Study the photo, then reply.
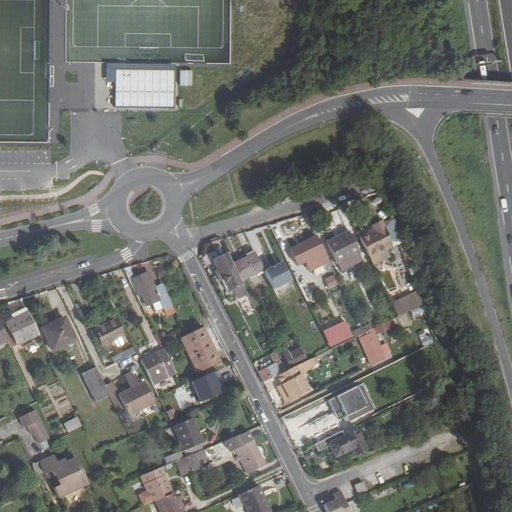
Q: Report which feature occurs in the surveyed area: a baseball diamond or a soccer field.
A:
soccer field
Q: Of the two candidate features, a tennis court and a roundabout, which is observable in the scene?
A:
roundabout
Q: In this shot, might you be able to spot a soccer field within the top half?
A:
Yes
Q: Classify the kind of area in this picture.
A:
residential area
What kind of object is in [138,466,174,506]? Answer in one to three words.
house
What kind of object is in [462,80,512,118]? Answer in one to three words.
overpass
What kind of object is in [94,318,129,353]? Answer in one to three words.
house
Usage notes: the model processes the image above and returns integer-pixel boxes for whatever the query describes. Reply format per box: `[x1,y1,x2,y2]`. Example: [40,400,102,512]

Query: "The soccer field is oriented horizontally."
[66,0,230,62]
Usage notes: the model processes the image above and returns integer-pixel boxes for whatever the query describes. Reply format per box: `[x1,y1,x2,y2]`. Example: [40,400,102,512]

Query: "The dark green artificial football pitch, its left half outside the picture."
[0,0,48,140]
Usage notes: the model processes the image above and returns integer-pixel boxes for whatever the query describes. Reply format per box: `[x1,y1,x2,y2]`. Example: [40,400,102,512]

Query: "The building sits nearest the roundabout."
[133,257,176,316]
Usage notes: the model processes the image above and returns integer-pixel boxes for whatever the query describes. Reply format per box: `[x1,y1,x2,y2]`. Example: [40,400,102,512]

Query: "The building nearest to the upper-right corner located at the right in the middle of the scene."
[360,219,400,264]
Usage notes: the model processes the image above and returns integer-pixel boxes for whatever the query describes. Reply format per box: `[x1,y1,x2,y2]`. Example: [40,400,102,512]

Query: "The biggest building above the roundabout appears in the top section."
[105,62,176,108]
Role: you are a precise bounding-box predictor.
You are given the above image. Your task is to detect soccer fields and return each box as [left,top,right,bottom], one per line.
[66,0,230,62]
[0,0,48,140]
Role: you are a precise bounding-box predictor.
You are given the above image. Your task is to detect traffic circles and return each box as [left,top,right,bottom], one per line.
[107,166,199,256]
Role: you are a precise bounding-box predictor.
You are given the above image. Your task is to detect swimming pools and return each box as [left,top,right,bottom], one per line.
[382,270,397,292]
